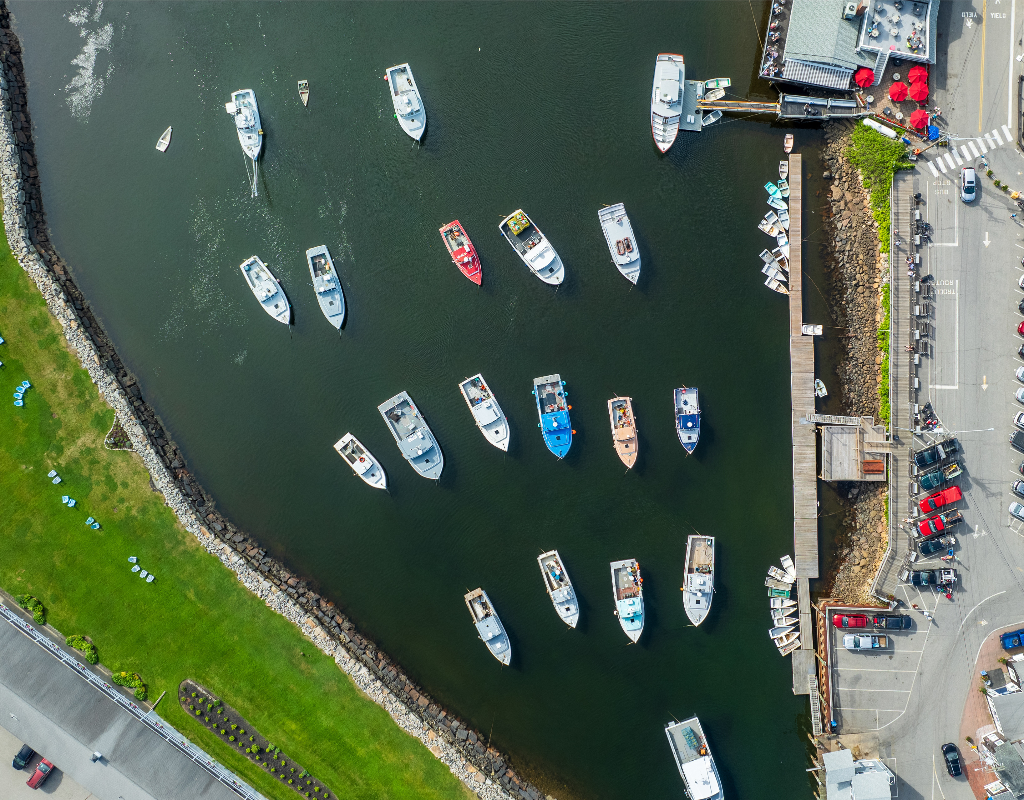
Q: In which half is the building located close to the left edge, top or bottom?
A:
bottom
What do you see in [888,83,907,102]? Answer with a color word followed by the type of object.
red umbrella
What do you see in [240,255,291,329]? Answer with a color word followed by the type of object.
white boat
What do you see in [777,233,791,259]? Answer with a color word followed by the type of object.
white boat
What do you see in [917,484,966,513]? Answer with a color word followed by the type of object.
red truck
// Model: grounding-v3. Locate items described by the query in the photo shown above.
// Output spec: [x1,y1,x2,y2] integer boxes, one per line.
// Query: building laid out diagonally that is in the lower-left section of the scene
[0,597,263,800]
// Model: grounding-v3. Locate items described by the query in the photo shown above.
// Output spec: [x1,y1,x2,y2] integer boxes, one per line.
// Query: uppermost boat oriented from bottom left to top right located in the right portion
[702,110,722,125]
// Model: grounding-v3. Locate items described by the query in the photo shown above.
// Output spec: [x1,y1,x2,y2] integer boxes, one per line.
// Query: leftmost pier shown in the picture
[678,80,706,132]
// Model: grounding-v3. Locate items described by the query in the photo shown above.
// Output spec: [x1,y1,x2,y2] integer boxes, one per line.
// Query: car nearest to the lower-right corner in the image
[939,741,964,778]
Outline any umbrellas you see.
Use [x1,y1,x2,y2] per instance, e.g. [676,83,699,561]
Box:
[854,70,873,88]
[908,110,928,129]
[907,66,927,84]
[908,83,928,102]
[888,83,907,102]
